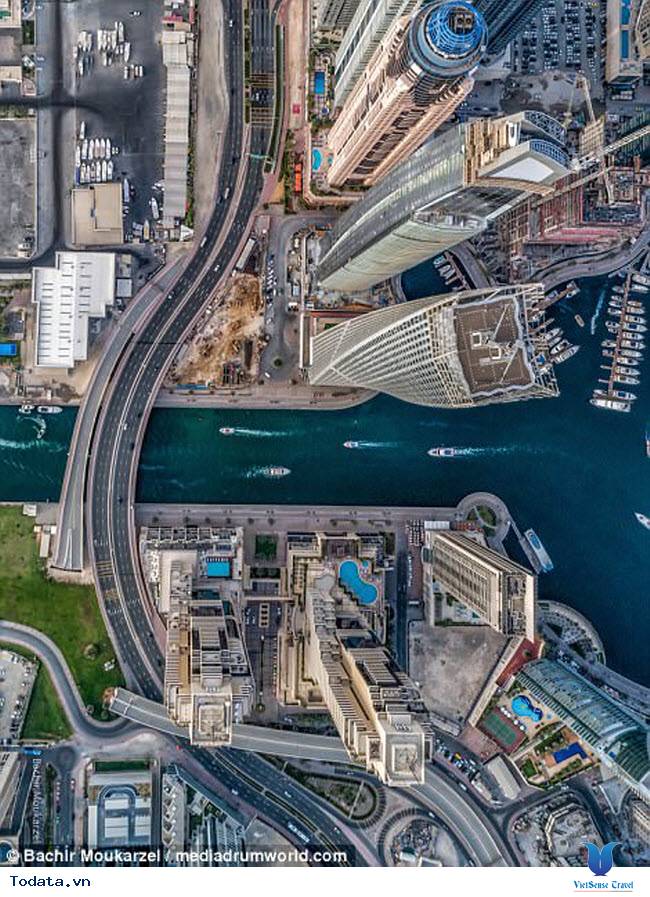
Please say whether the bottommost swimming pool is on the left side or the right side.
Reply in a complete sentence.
The bottommost swimming pool is on the right side of the image.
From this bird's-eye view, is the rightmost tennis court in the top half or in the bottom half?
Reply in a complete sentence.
You can find the rightmost tennis court in the bottom half.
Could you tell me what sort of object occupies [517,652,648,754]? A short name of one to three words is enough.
building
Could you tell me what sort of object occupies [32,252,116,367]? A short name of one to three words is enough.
building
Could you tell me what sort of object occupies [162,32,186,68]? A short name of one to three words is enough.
shed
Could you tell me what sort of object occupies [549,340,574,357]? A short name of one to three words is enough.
boat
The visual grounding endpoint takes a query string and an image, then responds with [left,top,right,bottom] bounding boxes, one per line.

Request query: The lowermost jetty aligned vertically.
[604,262,634,397]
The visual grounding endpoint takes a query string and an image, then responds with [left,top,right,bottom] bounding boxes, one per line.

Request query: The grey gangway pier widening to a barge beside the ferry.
[508,519,540,573]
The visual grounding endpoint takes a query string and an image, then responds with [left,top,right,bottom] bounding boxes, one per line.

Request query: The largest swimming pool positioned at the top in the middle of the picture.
[314,72,326,94]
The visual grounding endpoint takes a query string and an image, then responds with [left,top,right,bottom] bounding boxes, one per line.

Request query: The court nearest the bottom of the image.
[475,708,524,755]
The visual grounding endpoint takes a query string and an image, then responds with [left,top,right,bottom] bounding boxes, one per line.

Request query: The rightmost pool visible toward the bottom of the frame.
[552,741,588,763]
